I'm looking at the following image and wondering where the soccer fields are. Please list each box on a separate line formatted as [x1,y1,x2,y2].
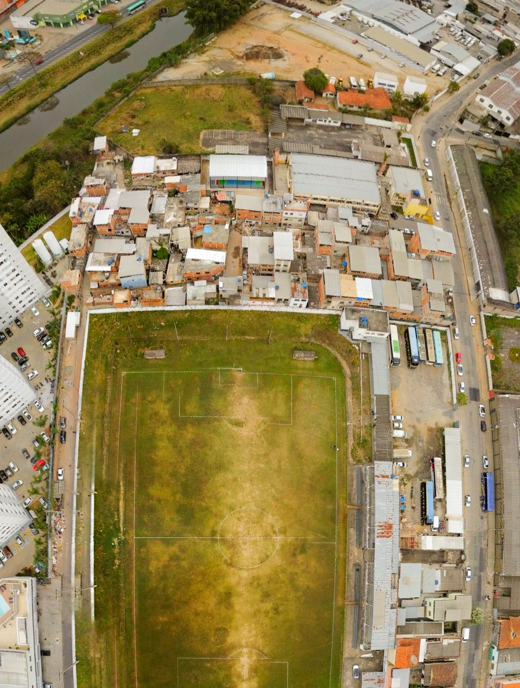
[111,366,347,688]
